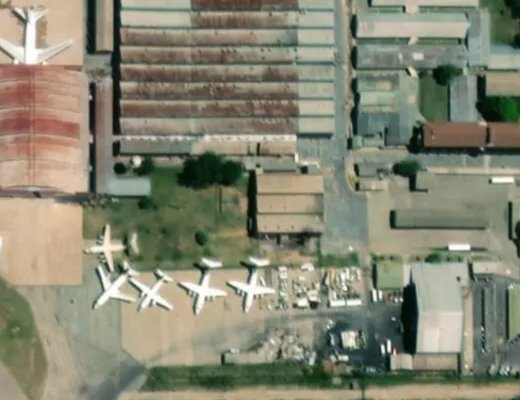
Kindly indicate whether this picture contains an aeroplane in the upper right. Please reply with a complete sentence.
No, looking in the upper right, there is no aeroplane.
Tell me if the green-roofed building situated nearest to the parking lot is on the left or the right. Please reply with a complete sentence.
You can find the green-roofed building situated nearest to the parking lot on the right side of the picture.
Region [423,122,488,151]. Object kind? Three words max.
house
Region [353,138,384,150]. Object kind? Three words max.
shed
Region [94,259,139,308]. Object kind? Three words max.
airplane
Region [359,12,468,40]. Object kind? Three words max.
building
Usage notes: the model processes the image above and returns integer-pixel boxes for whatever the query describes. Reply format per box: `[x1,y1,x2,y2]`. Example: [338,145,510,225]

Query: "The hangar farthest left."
[0,65,92,197]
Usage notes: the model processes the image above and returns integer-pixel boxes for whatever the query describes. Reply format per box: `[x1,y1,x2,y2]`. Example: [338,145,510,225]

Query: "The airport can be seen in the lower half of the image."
[0,196,368,400]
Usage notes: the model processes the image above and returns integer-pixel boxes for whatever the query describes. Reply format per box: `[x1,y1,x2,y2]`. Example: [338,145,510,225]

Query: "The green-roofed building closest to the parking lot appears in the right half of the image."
[375,262,403,289]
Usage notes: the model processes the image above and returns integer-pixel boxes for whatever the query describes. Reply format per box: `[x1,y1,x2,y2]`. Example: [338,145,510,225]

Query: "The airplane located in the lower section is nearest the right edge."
[228,255,276,311]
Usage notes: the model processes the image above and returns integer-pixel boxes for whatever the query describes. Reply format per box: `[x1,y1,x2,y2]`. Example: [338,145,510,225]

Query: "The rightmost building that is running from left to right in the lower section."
[473,261,506,275]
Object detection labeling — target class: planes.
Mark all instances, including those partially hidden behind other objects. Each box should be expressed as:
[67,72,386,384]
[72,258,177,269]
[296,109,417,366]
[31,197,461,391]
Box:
[129,261,176,310]
[0,0,72,65]
[228,255,276,311]
[94,259,139,308]
[180,258,228,314]
[83,224,138,271]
